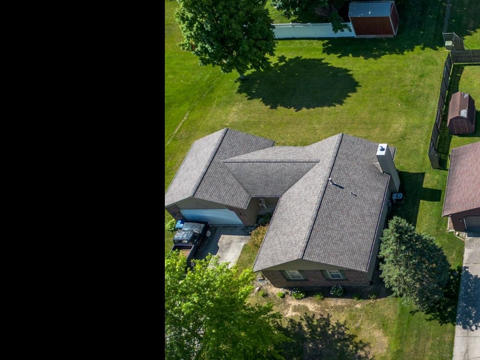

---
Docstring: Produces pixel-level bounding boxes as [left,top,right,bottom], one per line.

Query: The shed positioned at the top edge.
[348,2,397,36]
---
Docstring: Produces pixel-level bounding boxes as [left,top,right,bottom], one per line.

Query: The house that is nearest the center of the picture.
[153,128,400,287]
